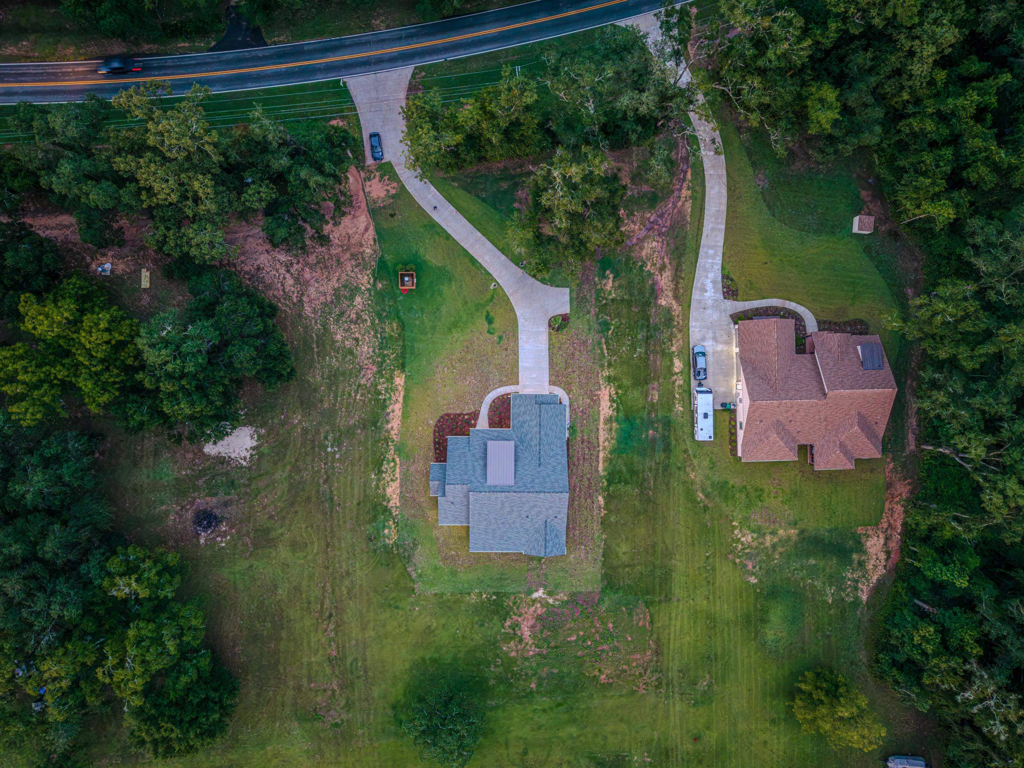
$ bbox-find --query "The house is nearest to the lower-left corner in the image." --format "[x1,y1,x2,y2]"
[429,394,569,557]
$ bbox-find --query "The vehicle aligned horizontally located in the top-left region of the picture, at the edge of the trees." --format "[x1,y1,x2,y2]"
[102,58,139,74]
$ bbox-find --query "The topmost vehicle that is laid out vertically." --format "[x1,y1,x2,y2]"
[370,131,385,162]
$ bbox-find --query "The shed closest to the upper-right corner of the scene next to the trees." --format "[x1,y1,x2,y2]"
[852,214,875,233]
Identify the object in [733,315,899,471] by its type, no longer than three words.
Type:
house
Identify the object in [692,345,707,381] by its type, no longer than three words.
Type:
vehicle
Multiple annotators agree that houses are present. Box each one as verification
[429,394,569,557]
[733,315,899,471]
